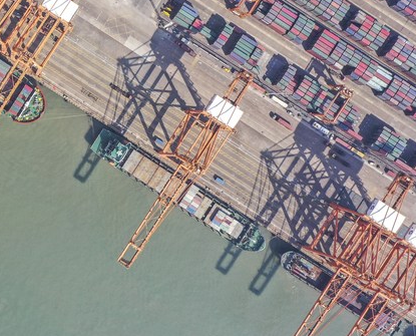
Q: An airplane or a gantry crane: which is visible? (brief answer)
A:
gantry crane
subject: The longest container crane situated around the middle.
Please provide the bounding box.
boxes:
[117,69,256,269]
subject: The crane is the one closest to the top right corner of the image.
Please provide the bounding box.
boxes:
[305,84,355,126]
